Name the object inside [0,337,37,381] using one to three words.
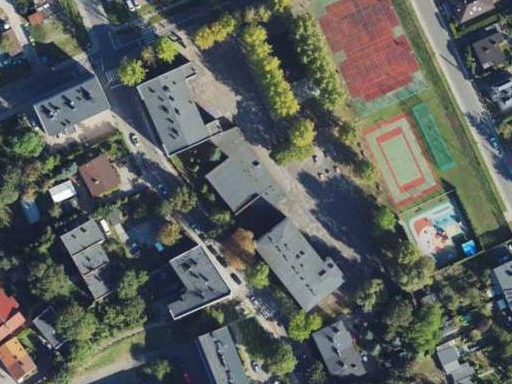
house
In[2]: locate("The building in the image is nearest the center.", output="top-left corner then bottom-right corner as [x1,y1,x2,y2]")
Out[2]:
[206,128,286,216]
